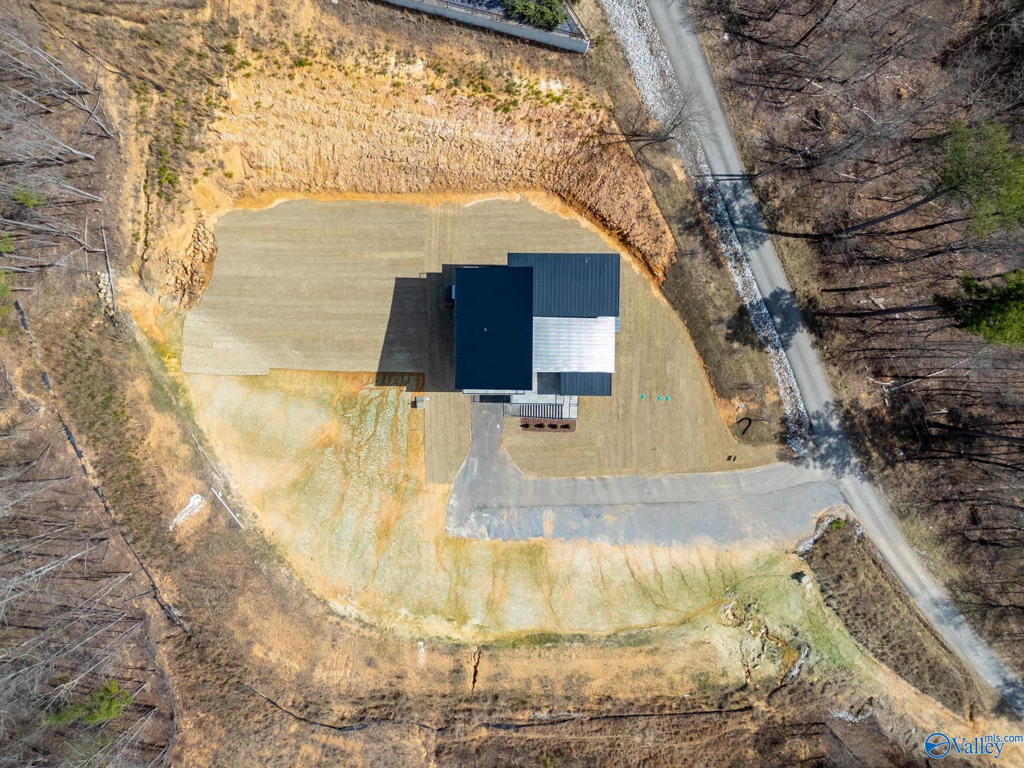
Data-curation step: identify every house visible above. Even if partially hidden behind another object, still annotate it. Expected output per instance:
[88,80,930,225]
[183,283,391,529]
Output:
[453,252,622,419]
